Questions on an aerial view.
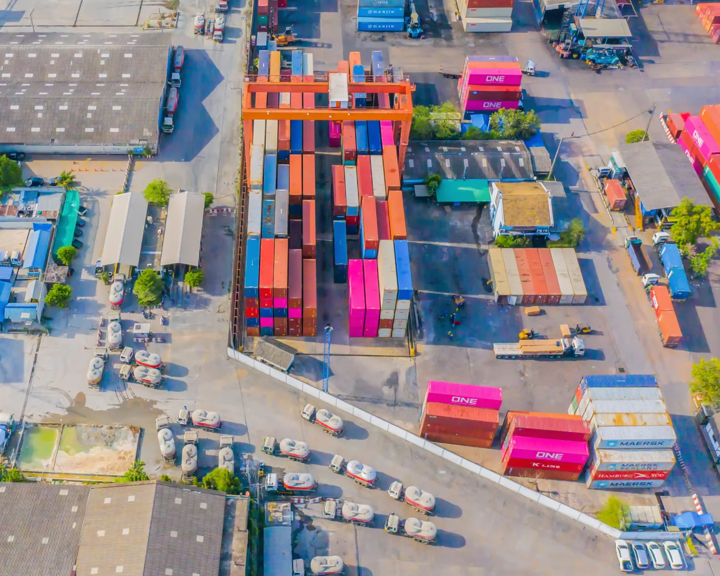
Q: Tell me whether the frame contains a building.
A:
Yes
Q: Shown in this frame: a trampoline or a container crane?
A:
container crane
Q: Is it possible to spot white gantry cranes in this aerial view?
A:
No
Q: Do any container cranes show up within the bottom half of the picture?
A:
No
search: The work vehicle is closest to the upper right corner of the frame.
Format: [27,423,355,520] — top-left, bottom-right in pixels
[587,49,616,68]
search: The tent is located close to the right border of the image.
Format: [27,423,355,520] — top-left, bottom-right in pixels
[668,512,714,530]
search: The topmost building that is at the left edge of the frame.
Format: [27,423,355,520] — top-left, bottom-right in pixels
[0,31,175,162]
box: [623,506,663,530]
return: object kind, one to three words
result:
building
